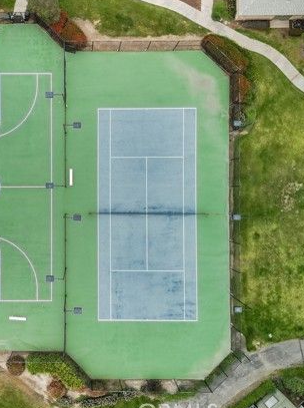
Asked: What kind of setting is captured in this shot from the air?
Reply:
sports ground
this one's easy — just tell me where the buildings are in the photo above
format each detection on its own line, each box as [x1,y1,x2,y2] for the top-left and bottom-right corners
[254,386,304,408]
[234,0,304,27]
